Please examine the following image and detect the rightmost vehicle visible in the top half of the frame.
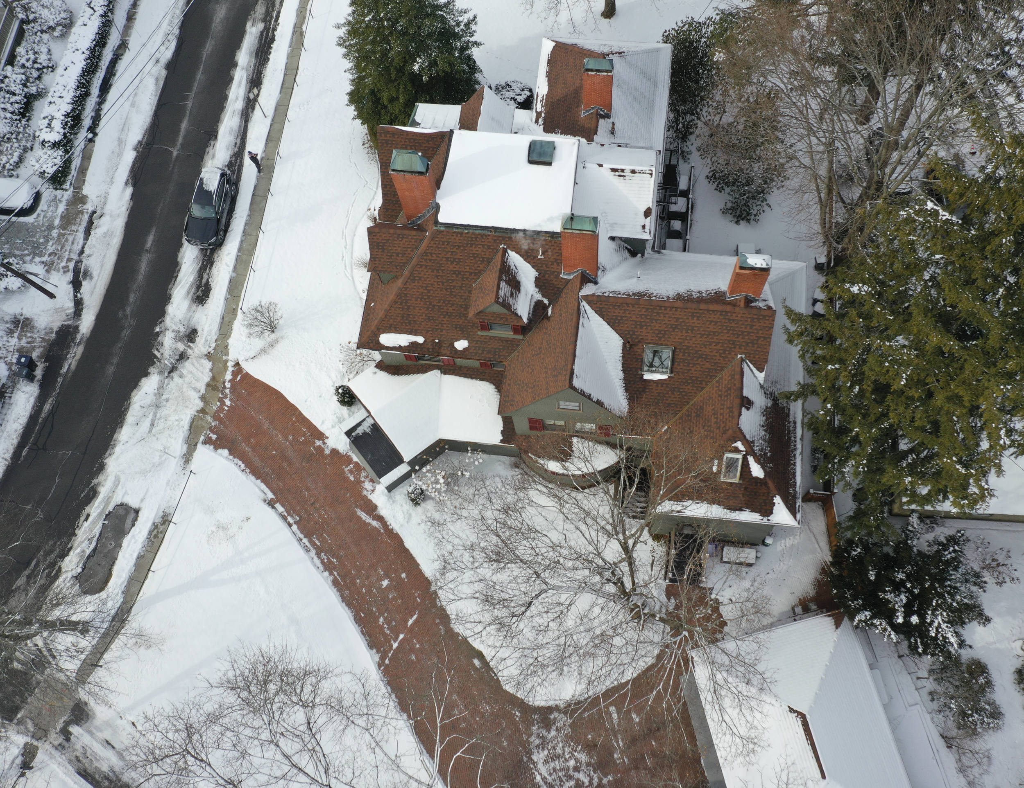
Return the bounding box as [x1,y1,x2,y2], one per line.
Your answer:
[181,167,233,245]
